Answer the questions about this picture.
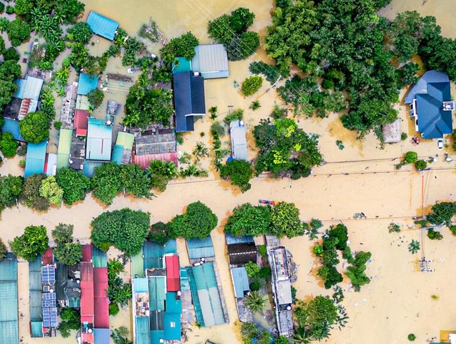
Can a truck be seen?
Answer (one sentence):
No, there isn't any truck down there.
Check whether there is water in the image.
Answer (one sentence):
Yes, some water is visible.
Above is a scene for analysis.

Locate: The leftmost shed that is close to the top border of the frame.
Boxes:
[86,11,118,42]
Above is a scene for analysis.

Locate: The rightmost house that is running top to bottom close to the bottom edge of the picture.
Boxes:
[262,235,297,336]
